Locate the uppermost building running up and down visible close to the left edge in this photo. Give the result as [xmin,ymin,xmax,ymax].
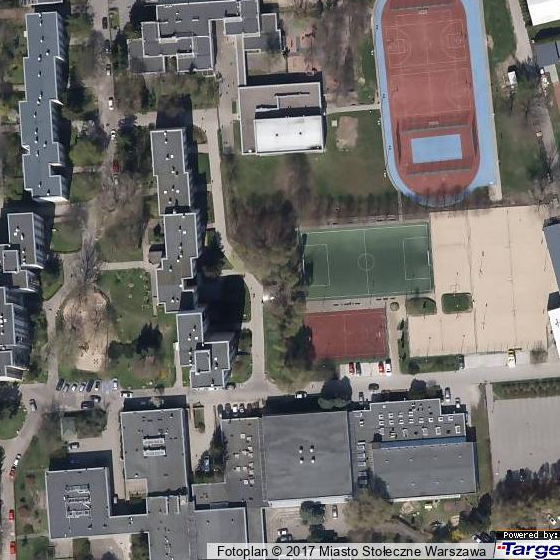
[19,12,69,202]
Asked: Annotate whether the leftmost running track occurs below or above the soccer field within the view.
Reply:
above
